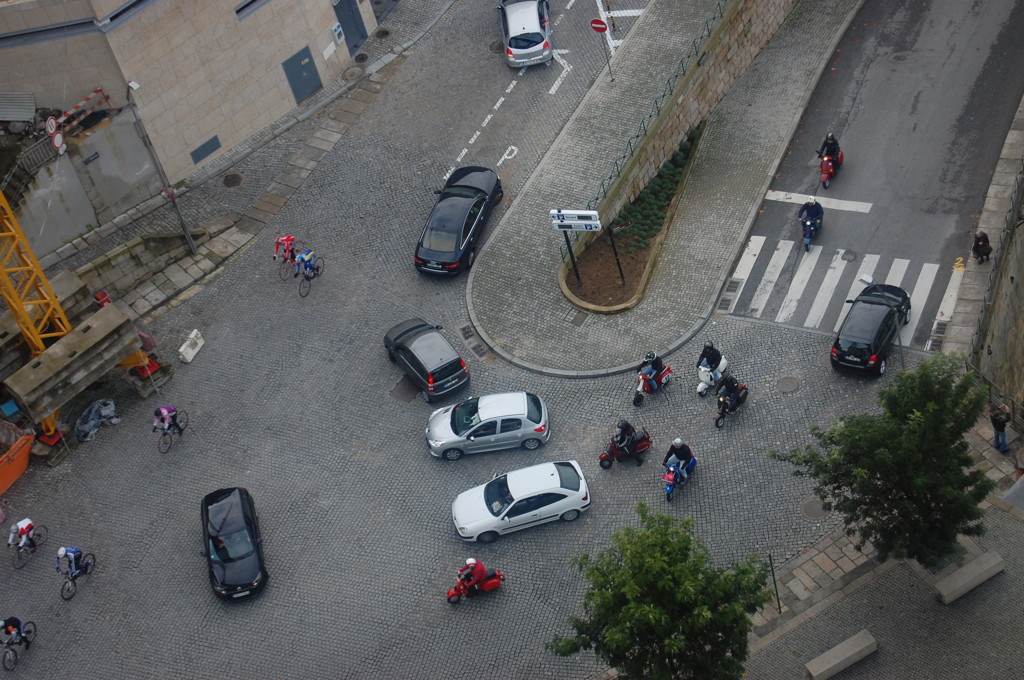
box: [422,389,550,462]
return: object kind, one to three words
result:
car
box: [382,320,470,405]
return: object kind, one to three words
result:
car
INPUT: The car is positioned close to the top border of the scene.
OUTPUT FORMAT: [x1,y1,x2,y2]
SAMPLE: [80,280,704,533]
[494,0,554,63]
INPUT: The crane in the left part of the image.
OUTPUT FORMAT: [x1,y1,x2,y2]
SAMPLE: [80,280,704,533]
[0,179,162,446]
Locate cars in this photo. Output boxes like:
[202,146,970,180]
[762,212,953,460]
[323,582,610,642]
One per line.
[826,284,913,382]
[451,460,590,544]
[413,172,503,278]
[494,0,554,63]
[197,480,268,596]
[382,320,470,405]
[422,389,550,462]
